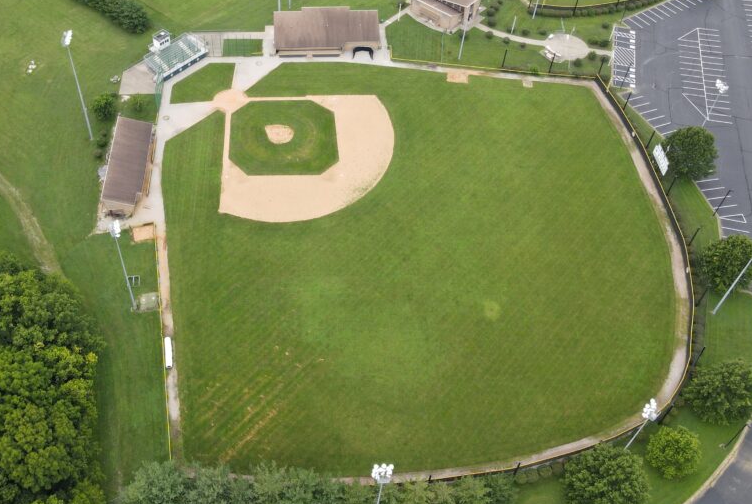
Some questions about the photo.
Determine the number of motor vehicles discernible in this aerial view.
none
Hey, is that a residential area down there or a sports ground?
sports ground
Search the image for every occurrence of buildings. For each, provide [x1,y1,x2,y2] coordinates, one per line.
[96,116,154,217]
[274,5,383,61]
[412,0,478,23]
